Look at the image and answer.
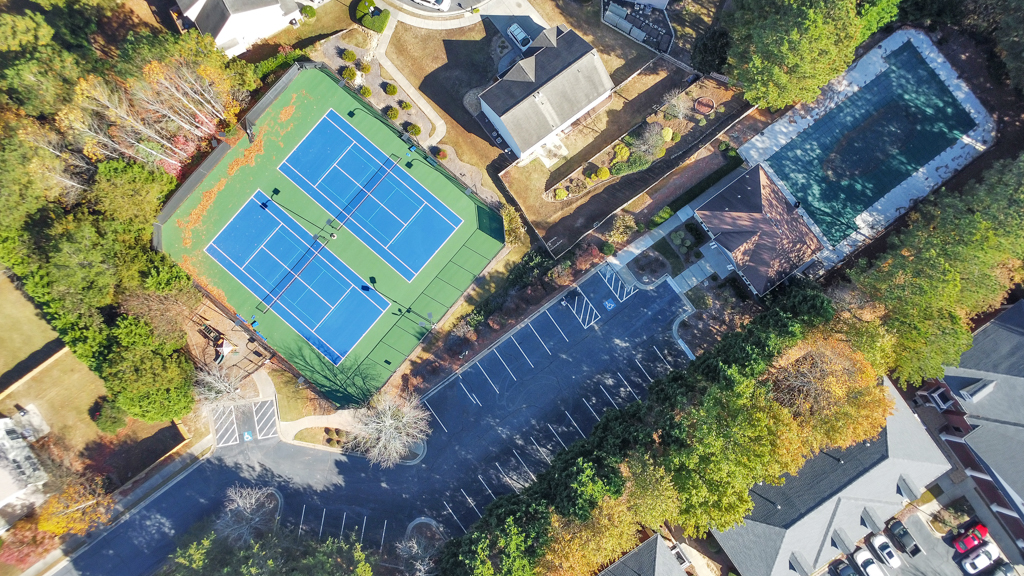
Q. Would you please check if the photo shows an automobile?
Yes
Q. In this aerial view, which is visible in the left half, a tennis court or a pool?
tennis court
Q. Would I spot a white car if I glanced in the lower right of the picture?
Yes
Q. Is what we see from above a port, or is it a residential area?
residential area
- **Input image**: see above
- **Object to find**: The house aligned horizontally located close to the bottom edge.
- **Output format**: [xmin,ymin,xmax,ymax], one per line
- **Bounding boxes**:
[599,533,700,576]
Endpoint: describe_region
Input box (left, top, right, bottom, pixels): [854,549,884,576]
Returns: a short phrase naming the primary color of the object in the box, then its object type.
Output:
white car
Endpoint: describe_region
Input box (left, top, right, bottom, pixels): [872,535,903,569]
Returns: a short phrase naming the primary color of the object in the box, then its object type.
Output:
white car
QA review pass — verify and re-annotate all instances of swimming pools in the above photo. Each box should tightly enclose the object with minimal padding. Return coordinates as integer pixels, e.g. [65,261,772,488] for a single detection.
[739,28,996,276]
